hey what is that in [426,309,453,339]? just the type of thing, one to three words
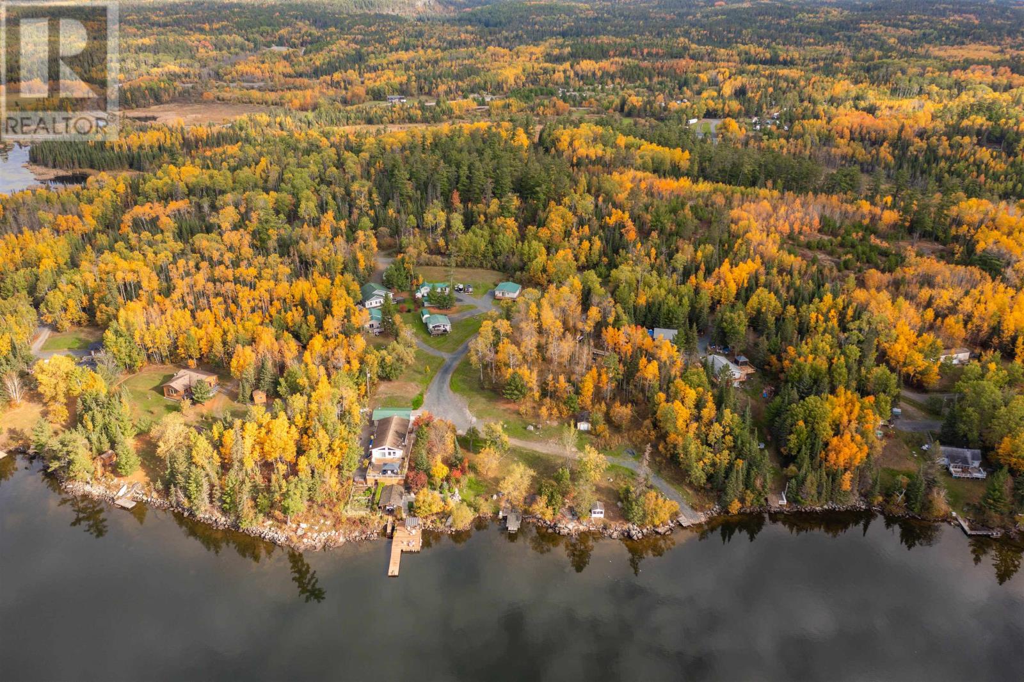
building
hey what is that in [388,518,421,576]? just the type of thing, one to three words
pier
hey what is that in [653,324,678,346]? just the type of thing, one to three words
building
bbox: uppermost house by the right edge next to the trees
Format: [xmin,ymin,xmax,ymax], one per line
[933,345,975,365]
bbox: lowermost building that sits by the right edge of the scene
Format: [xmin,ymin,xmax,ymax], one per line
[923,435,988,485]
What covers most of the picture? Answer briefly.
trees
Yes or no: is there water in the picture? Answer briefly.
Yes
